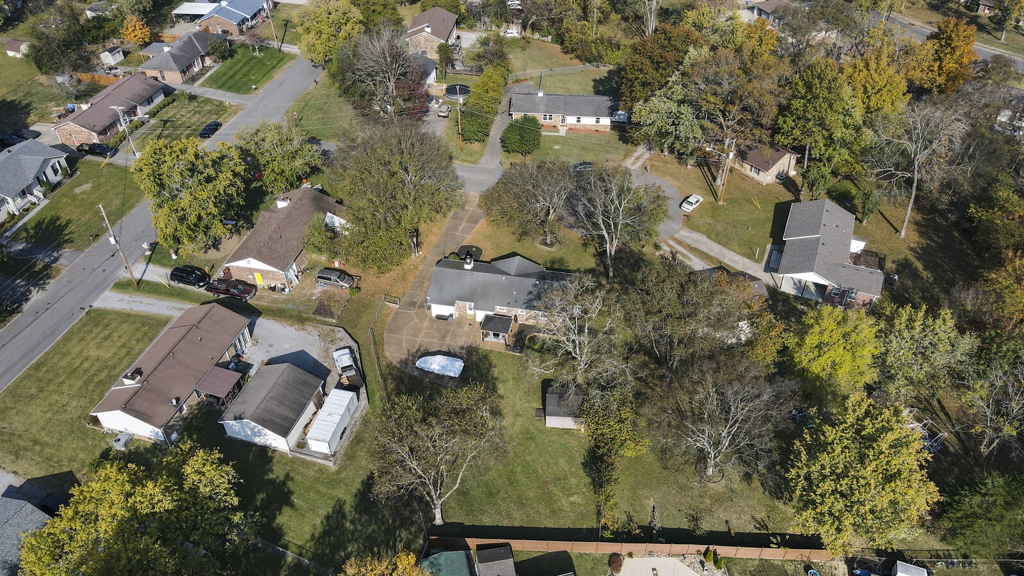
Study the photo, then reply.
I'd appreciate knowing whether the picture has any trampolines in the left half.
No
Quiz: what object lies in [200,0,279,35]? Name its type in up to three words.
house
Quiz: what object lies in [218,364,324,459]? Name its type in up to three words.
building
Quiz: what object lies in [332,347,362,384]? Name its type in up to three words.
truck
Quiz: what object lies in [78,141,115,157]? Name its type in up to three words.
vehicle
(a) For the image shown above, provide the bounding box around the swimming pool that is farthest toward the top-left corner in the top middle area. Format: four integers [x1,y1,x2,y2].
[443,86,470,105]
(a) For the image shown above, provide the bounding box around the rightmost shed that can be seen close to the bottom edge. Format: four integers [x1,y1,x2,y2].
[476,545,516,576]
